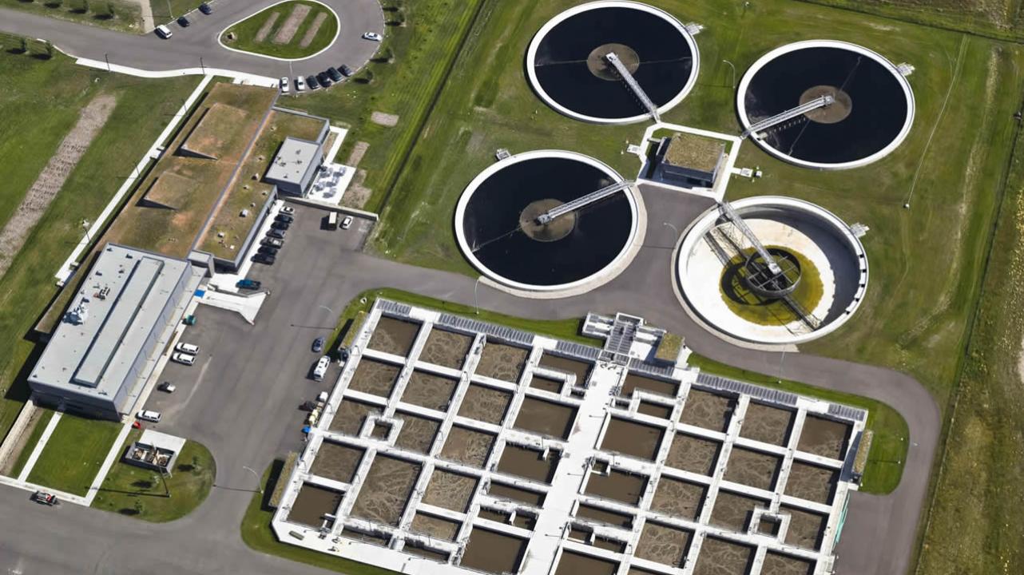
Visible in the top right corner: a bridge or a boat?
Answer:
bridge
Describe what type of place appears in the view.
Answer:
industrial area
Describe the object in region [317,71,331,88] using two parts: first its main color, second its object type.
black car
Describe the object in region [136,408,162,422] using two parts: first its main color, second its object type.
white car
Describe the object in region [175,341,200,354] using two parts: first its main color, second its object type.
white vehicle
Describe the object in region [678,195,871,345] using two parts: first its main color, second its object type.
white storage tank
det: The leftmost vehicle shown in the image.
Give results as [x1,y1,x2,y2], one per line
[37,490,60,506]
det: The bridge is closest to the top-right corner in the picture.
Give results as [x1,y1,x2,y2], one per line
[741,97,822,137]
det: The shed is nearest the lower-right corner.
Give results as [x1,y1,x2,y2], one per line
[853,434,872,480]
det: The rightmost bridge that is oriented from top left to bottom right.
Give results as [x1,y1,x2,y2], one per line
[716,198,773,263]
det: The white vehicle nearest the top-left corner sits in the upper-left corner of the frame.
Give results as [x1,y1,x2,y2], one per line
[154,23,174,38]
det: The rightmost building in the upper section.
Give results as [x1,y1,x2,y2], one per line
[664,133,725,187]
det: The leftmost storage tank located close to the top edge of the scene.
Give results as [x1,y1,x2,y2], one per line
[527,2,704,125]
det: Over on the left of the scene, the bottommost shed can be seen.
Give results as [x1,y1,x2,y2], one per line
[269,452,302,511]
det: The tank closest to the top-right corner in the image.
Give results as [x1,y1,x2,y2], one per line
[736,40,915,170]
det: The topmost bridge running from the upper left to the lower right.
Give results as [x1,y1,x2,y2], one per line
[611,58,661,124]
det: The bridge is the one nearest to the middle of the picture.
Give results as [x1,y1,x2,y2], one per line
[551,176,639,219]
